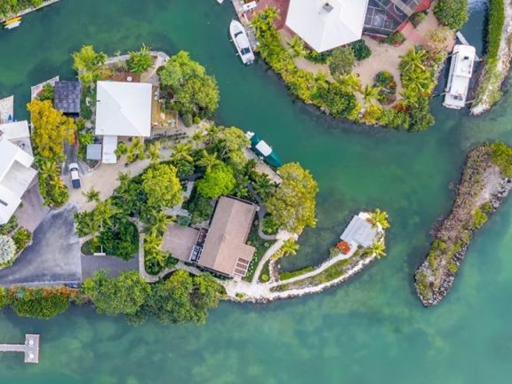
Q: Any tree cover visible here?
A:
Yes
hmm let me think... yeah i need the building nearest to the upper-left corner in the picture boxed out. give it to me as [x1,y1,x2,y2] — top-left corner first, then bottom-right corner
[54,81,80,113]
